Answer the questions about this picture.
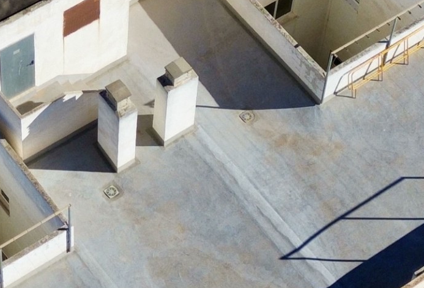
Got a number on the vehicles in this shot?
zero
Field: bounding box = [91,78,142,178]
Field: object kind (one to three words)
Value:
chimney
